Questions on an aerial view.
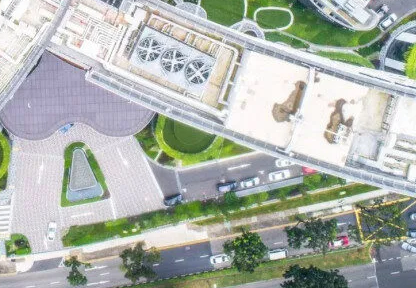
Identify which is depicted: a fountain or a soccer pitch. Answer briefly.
fountain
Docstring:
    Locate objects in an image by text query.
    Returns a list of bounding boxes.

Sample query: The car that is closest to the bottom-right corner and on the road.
[401,240,416,254]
